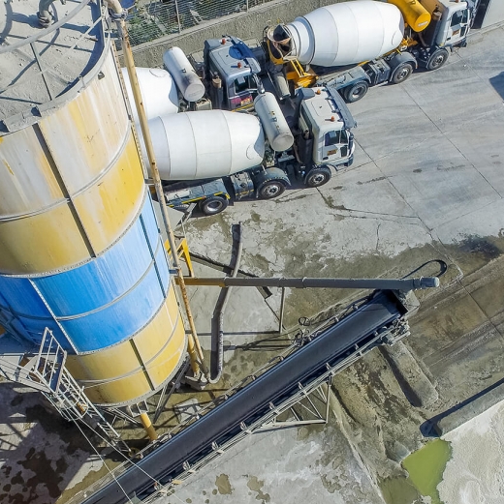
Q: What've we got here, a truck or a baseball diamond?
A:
truck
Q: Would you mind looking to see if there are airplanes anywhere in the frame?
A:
No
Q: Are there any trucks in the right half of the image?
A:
Yes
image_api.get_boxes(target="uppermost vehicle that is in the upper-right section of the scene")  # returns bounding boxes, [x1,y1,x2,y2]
[258,0,478,105]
